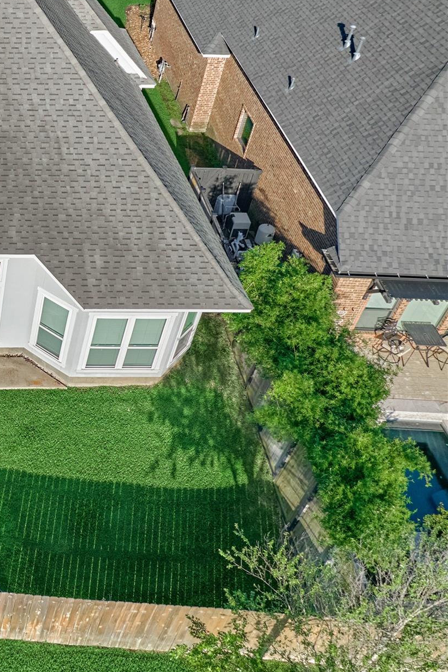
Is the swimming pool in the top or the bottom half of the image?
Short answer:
bottom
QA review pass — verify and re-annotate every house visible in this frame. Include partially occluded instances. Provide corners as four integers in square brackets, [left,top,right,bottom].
[0,0,254,385]
[141,0,448,331]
